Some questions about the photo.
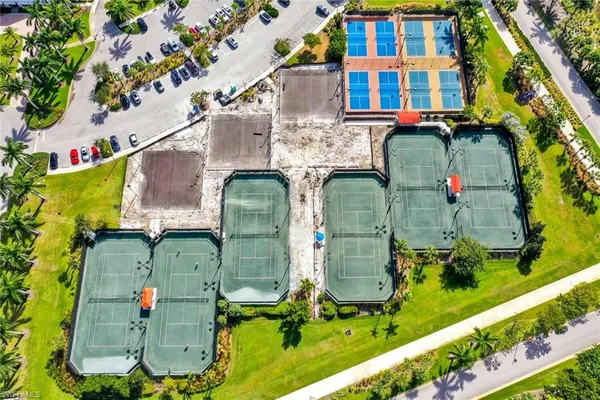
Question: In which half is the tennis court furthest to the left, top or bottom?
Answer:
bottom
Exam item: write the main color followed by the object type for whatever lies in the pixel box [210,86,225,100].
gray vehicle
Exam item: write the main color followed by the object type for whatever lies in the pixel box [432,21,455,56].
blue sports court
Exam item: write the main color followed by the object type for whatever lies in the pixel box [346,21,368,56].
blue sports court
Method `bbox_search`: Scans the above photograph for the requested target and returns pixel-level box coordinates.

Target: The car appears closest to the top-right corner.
[315,2,329,15]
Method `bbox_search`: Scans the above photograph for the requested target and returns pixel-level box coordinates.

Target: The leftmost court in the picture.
[72,233,155,374]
